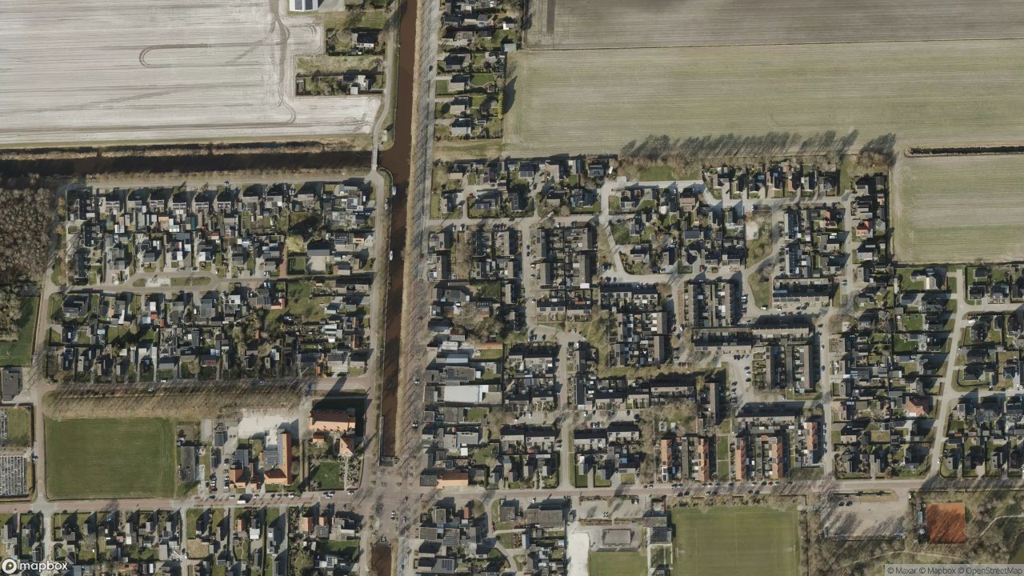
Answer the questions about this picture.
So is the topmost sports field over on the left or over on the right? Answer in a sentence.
The topmost sports field is on the left side of the image.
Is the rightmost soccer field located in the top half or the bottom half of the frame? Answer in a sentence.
You can find the rightmost soccer field in the bottom half.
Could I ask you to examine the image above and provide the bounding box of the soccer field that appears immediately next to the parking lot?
[665,506,801,576]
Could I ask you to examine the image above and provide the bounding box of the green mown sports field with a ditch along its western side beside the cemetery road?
[46,418,175,500]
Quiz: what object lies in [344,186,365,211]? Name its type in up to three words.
house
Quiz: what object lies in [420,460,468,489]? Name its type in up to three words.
building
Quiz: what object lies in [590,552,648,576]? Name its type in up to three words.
sports field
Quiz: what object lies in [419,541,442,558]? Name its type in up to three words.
house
